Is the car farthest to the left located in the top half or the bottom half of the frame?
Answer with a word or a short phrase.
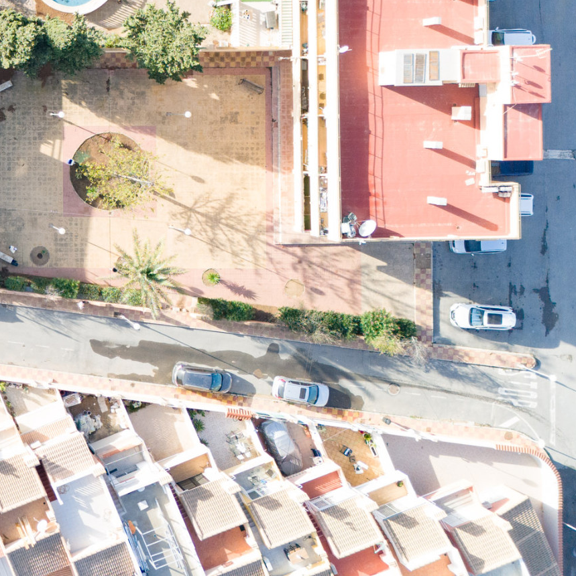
bottom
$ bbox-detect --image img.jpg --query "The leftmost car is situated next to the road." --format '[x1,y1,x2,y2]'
[170,362,233,396]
